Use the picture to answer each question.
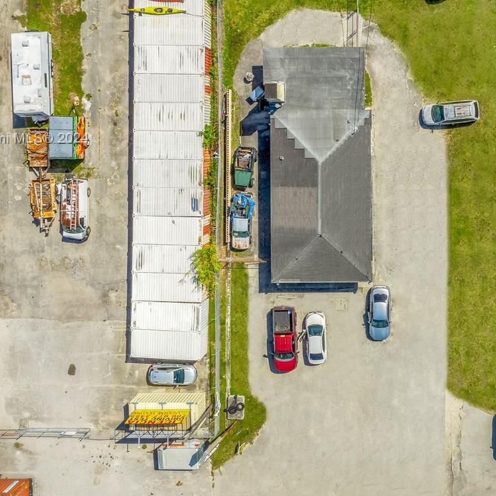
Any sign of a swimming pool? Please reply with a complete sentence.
No, no swimming pool can be seen from above.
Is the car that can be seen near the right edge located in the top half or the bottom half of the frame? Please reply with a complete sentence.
The car that can be seen near the right edge sits in the top half of the picture.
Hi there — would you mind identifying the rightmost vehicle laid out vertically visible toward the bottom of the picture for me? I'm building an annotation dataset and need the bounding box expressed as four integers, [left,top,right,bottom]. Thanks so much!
[366,286,392,342]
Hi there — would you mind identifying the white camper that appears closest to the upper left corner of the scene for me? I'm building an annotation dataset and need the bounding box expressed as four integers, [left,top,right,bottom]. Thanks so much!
[11,33,60,129]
